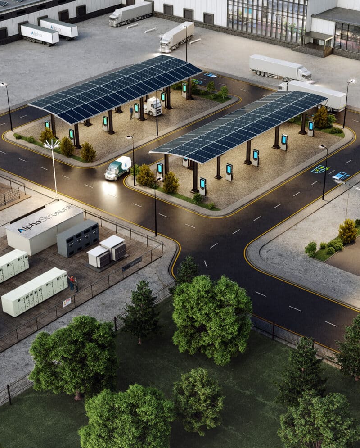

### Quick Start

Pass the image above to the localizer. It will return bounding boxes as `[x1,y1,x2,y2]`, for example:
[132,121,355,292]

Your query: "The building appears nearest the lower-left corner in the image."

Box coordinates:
[4,199,84,254]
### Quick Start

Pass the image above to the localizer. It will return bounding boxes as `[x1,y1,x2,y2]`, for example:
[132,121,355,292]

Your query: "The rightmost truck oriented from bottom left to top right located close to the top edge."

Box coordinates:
[159,20,194,51]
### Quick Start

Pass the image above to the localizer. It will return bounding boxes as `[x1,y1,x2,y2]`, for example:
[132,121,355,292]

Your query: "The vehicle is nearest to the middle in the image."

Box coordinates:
[101,151,136,180]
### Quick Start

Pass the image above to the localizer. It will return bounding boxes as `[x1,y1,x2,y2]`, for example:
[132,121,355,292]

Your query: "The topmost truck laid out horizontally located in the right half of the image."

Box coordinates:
[248,53,312,82]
